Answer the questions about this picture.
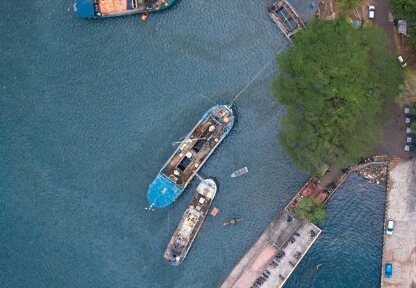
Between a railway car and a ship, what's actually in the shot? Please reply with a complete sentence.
Looking from above, you can make out a ship.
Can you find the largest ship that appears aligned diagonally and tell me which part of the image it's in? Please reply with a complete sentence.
The largest ship that appears aligned diagonally is in the center part of the image.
